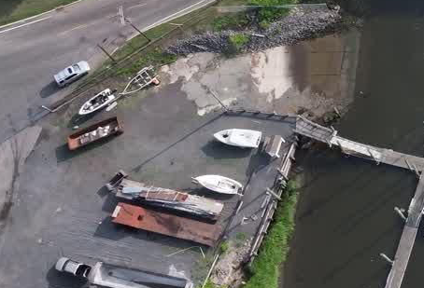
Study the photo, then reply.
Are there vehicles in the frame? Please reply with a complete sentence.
Yes, looking at the shot, I can spot a vehicle.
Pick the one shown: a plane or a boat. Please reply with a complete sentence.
I can see a boat in this picture.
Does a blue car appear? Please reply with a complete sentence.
No, there isn't any blue car down there.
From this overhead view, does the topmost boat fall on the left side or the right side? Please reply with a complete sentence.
The topmost boat is on the left side of the image.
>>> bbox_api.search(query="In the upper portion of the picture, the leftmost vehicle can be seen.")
[50,62,89,89]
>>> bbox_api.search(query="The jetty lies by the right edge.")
[290,113,424,288]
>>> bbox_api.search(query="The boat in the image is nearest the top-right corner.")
[214,128,264,150]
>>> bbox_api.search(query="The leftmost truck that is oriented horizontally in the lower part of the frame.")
[49,259,90,285]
